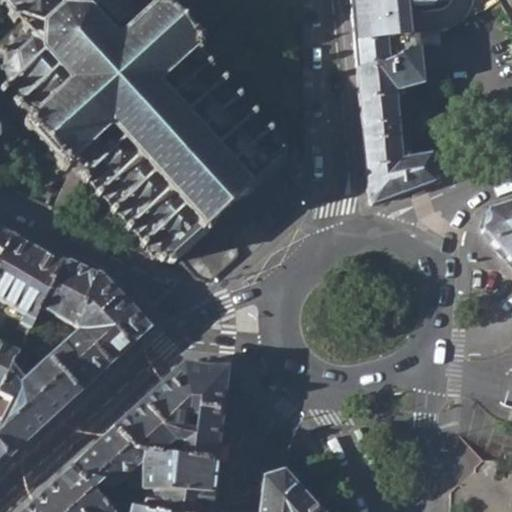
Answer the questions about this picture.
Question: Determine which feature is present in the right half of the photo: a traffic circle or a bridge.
traffic circle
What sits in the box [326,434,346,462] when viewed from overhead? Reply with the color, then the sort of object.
white vehicle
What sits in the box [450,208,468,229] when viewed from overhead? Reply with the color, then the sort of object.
white car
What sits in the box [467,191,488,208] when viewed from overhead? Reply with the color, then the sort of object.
white car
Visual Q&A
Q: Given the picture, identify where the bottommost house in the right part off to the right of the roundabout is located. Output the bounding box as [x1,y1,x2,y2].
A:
[481,198,512,264]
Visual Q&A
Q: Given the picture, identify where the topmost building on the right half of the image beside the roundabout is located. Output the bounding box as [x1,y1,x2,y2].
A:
[352,0,438,207]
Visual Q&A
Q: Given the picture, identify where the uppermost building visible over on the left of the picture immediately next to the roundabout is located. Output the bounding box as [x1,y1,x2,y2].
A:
[0,0,292,270]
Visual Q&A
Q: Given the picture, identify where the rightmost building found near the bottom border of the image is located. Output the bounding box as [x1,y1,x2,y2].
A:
[260,466,321,512]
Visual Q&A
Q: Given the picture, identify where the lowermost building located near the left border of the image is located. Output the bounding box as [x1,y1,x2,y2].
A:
[22,460,105,512]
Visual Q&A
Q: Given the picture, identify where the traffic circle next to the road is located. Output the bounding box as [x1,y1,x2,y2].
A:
[258,222,461,424]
